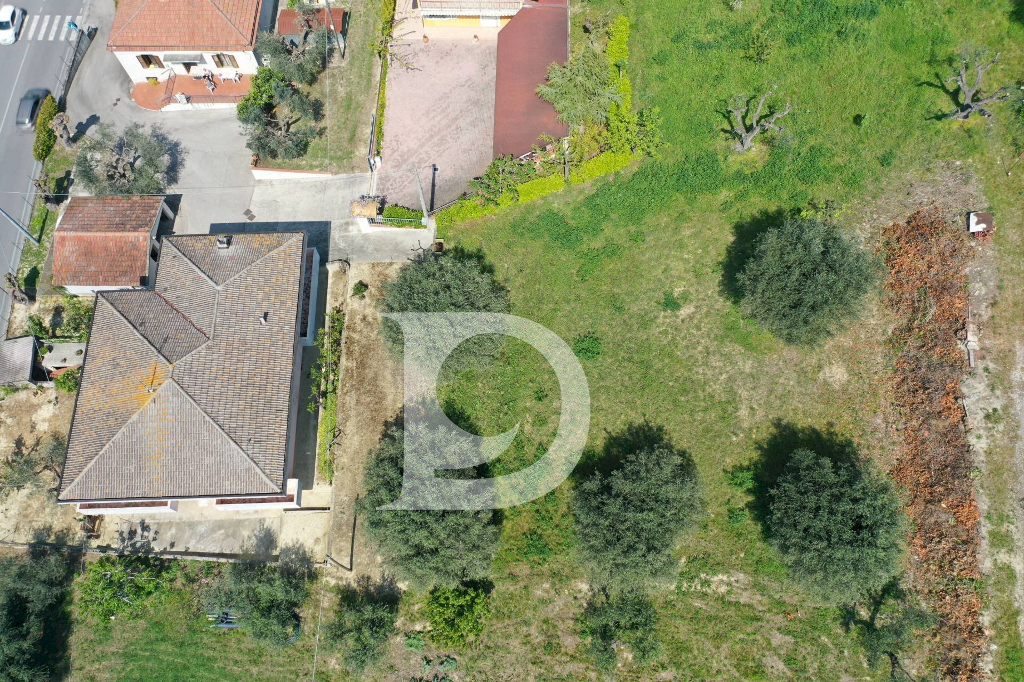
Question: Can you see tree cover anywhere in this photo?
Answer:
Yes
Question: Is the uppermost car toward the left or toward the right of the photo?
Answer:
left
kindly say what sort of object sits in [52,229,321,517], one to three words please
house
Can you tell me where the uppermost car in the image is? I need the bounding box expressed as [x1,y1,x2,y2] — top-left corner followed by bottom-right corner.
[0,8,23,42]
